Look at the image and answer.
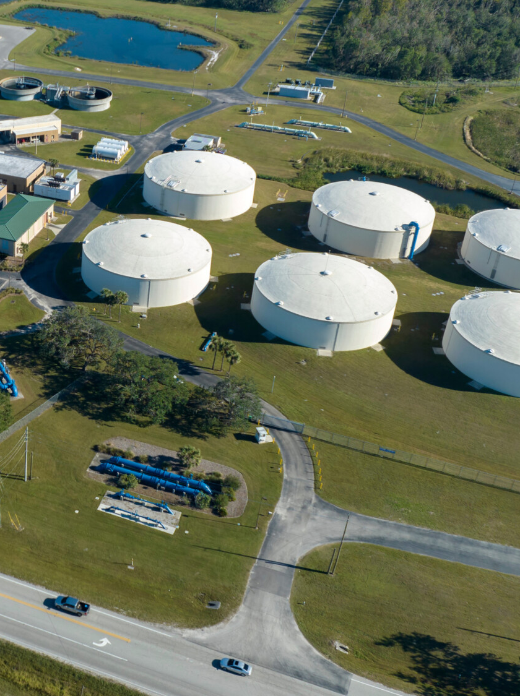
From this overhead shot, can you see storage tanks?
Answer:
Yes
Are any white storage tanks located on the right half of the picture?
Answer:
Yes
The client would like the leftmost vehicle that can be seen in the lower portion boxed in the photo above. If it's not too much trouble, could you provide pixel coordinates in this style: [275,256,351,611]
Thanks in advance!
[55,594,92,617]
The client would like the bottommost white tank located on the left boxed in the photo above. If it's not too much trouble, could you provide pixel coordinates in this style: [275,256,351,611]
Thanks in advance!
[70,215,218,314]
